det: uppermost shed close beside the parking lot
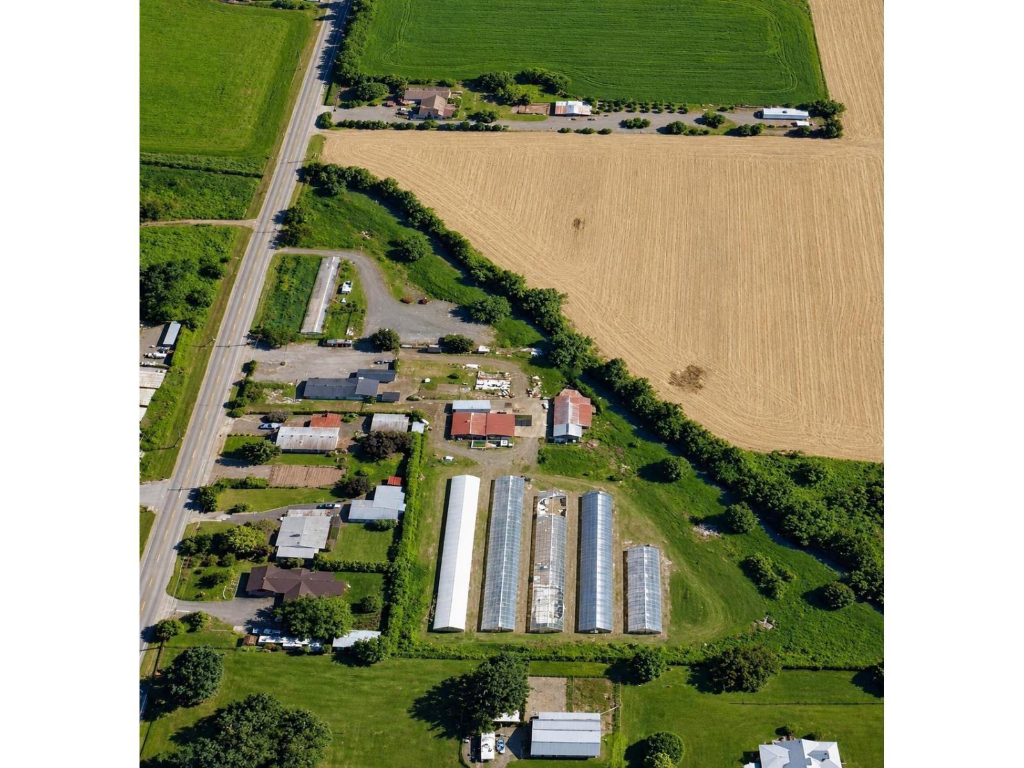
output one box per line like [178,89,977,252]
[302,255,341,338]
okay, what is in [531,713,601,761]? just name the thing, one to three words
barn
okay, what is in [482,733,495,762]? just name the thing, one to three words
vehicle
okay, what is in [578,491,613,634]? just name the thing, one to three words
greenhouse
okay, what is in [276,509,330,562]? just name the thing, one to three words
house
